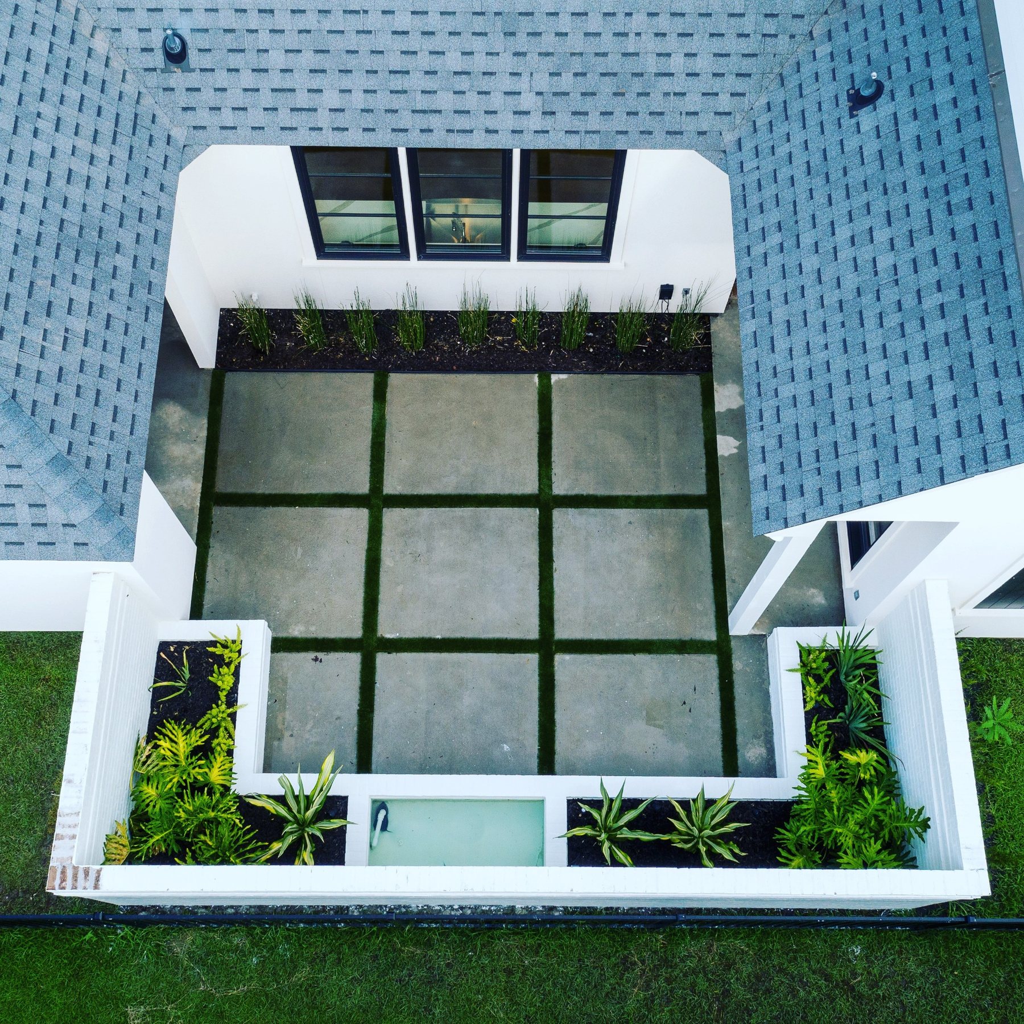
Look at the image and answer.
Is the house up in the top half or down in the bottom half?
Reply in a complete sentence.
The top half of the photo is where the house is.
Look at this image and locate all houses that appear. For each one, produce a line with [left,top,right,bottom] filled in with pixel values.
[0,0,1024,637]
